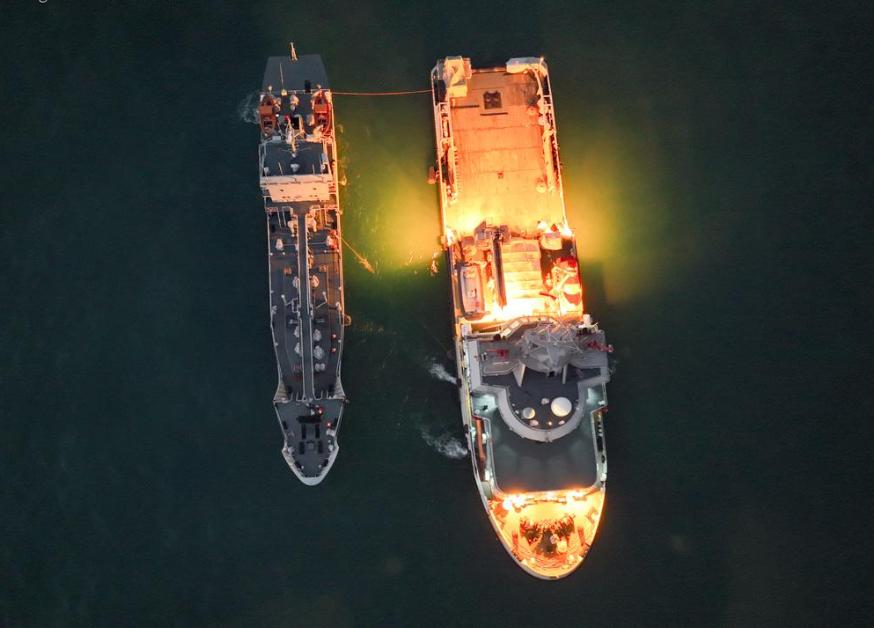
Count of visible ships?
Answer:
two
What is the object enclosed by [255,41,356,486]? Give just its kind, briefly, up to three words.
ship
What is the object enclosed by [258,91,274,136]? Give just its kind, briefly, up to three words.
boat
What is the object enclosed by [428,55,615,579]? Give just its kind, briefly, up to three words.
ship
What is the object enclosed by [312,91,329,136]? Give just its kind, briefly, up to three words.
boat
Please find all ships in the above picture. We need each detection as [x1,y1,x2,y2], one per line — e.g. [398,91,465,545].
[428,55,615,579]
[255,41,356,486]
